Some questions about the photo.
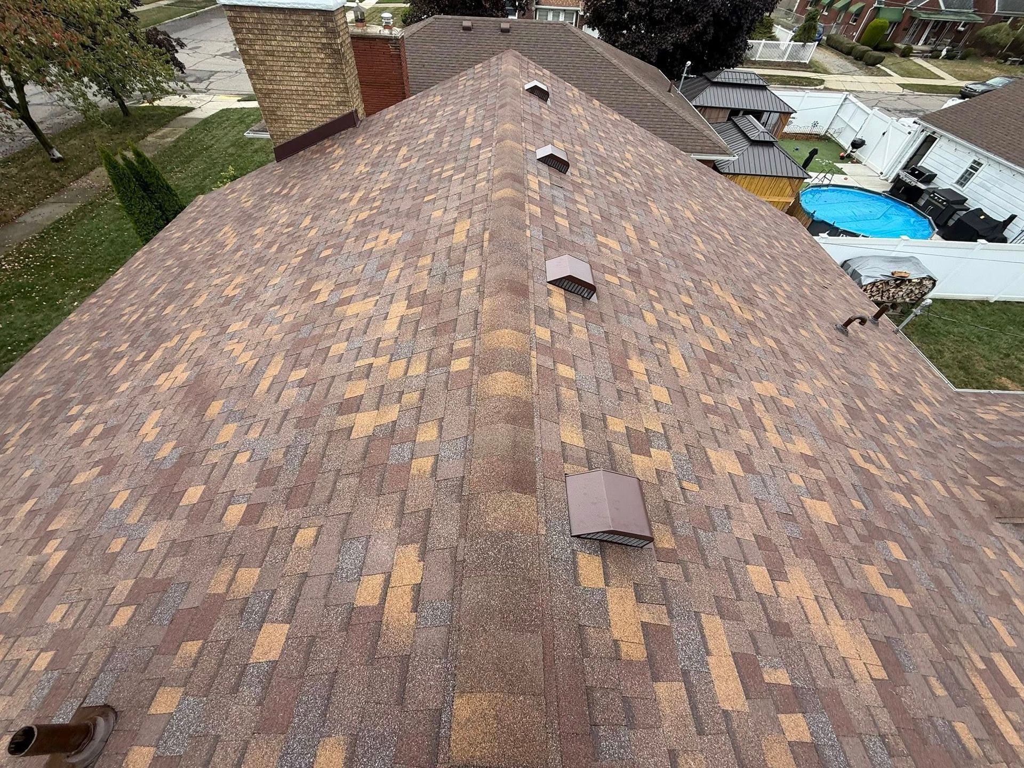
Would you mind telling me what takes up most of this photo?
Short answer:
buildings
